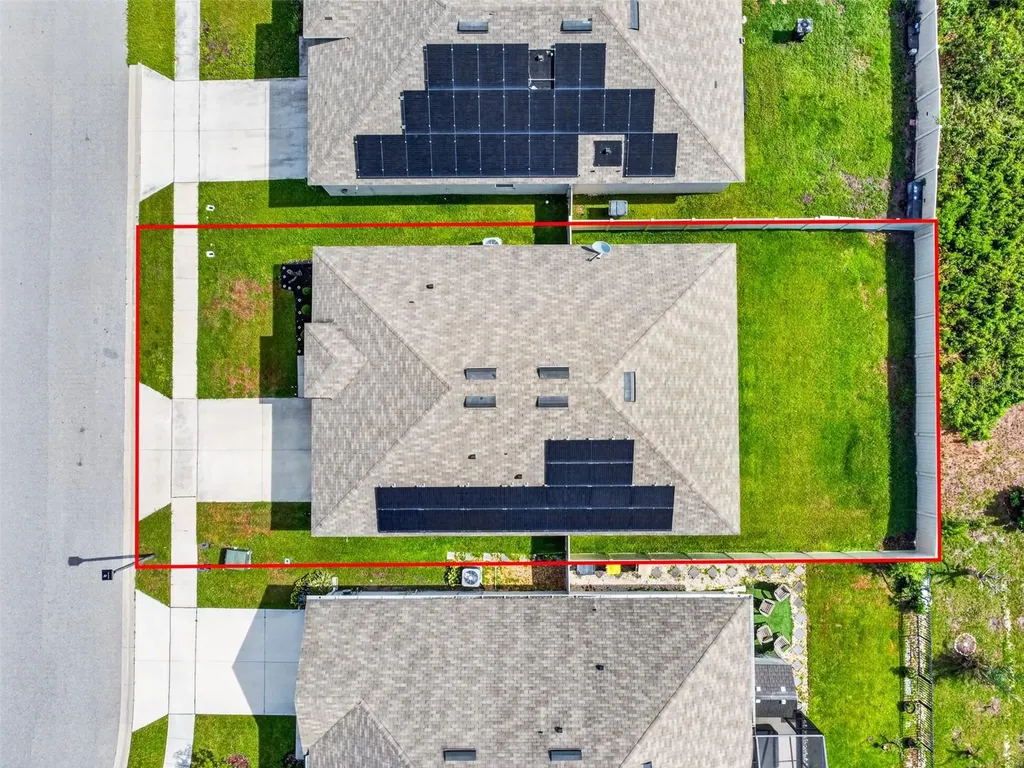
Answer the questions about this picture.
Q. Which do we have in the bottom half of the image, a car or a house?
house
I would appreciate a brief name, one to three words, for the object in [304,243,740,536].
house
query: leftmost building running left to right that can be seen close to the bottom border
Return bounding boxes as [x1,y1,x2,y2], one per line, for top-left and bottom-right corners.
[293,582,758,768]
